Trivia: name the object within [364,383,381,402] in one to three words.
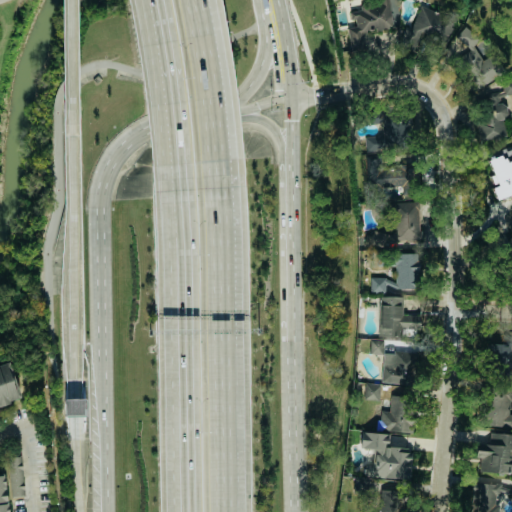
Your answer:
building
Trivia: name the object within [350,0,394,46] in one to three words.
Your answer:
house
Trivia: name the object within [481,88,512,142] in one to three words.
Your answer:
house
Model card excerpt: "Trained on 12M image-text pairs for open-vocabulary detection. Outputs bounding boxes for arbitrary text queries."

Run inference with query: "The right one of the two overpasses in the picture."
[130,0,248,192]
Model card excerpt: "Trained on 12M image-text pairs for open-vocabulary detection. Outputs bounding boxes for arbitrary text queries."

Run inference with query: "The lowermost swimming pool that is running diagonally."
[362,357,379,378]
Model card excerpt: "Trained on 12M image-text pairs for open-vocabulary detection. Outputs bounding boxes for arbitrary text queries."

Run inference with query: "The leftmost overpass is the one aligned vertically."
[62,0,86,424]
